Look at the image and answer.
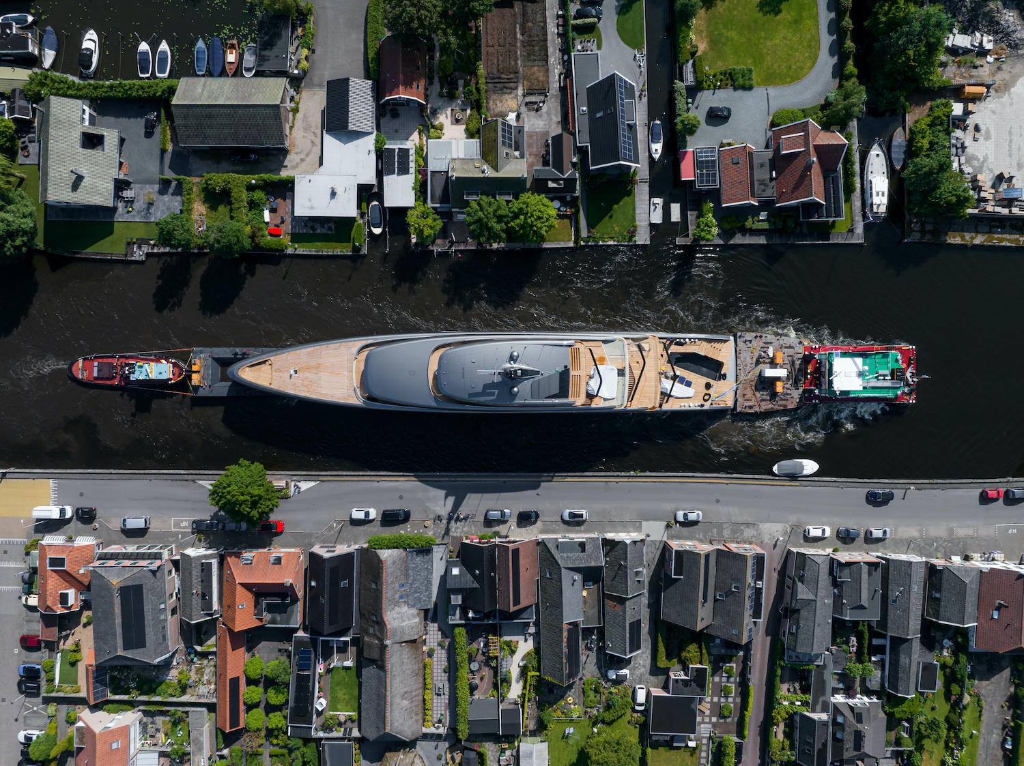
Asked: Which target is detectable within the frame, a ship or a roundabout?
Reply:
ship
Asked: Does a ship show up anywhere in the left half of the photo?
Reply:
Yes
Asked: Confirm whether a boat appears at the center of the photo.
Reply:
Yes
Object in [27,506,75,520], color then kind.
white vehicle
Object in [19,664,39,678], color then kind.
black car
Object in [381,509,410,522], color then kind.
black vehicle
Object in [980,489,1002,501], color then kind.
red vehicle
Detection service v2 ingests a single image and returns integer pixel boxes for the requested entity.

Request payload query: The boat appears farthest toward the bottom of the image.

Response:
[772,459,820,476]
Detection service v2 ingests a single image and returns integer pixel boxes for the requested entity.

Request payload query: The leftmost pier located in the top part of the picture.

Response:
[130,244,178,260]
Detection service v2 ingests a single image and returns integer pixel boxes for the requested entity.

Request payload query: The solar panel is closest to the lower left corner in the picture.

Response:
[92,667,107,702]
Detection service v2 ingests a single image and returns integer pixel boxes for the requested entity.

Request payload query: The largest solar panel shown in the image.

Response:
[121,585,146,650]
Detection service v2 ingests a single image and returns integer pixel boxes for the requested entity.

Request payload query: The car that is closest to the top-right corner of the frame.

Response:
[706,105,731,118]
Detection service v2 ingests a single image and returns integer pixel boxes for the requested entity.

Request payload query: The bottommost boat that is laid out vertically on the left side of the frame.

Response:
[368,200,383,235]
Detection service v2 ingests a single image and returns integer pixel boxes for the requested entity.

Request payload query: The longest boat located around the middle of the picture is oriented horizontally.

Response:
[231,333,737,412]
